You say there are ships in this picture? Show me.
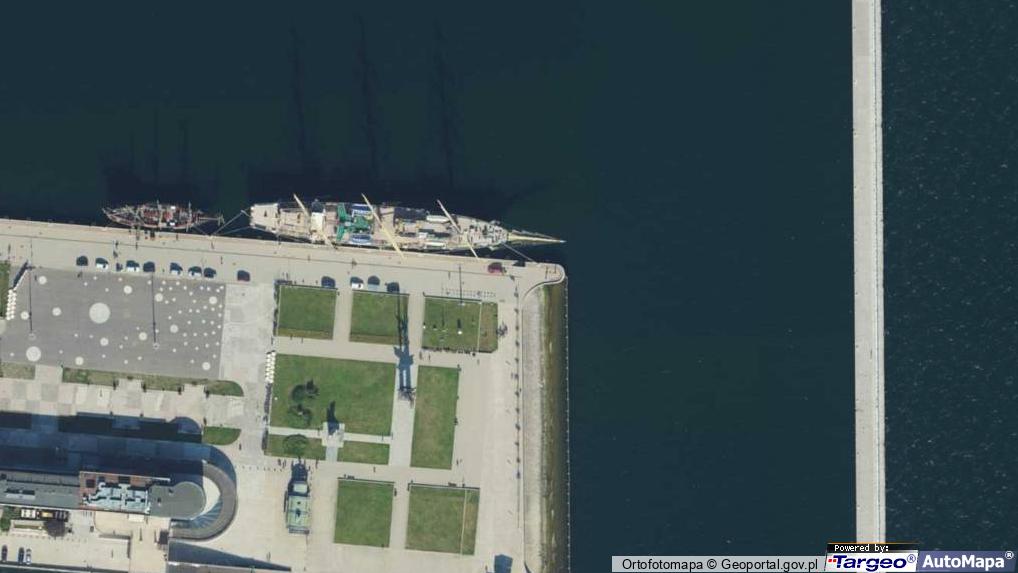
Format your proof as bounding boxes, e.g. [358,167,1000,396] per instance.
[249,193,566,265]
[101,200,224,234]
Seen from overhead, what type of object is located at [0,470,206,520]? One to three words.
building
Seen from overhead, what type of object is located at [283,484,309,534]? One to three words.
building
